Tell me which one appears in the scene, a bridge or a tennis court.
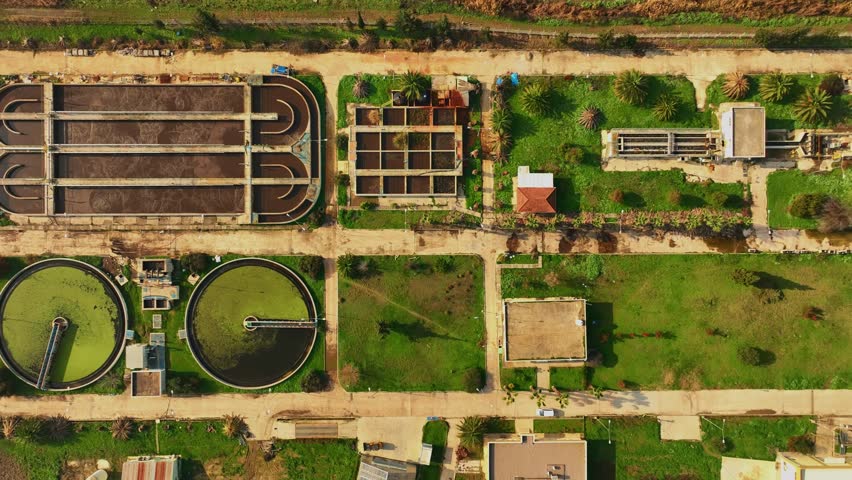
bridge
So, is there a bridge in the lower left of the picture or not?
Yes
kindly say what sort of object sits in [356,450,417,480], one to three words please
shed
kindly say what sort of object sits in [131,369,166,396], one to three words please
shed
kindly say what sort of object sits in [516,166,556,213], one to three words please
house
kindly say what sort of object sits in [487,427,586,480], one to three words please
building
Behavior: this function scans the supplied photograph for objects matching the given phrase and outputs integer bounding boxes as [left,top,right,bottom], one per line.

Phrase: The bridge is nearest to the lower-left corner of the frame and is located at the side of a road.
[32,320,64,392]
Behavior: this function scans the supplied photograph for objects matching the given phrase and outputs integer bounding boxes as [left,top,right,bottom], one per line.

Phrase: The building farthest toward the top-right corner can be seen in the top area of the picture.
[721,106,765,161]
